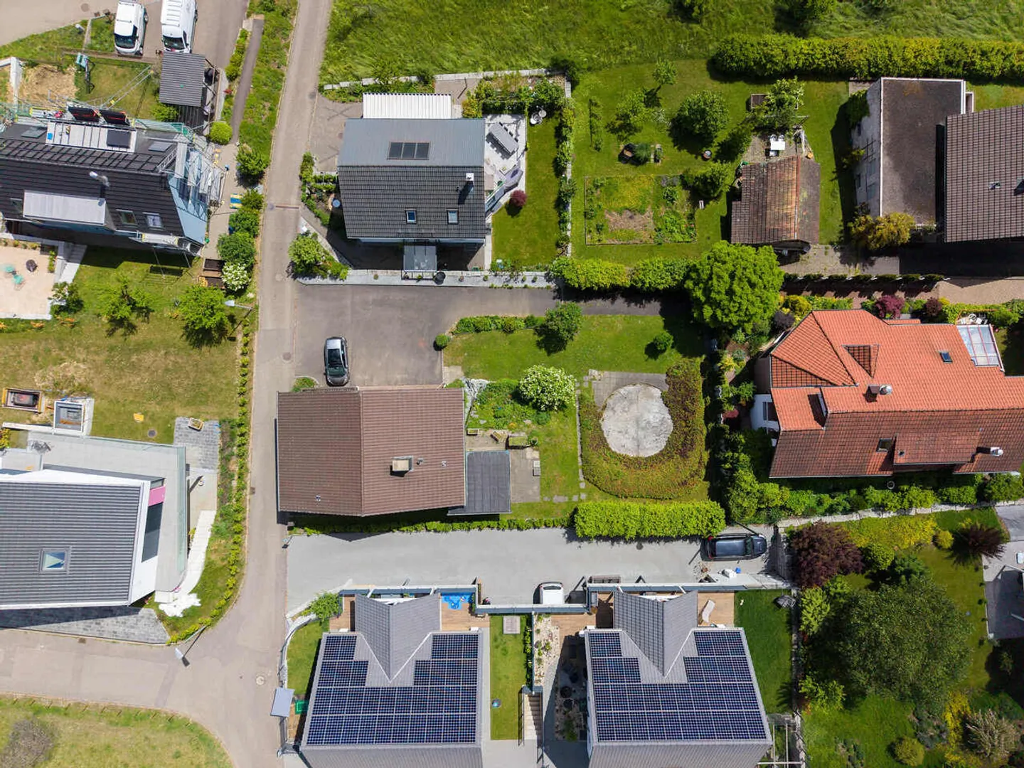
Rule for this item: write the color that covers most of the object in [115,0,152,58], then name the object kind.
white van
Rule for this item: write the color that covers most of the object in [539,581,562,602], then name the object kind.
white car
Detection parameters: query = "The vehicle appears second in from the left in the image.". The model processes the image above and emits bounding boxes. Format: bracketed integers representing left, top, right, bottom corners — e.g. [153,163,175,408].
[161,0,201,55]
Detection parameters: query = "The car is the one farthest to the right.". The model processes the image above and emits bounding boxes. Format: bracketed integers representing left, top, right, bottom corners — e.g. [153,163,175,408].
[701,533,767,564]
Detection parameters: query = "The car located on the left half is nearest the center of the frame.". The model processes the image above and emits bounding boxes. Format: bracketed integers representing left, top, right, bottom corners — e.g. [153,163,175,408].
[321,335,350,387]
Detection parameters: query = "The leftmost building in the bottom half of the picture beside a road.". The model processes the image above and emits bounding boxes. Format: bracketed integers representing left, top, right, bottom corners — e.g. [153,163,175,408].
[0,465,165,614]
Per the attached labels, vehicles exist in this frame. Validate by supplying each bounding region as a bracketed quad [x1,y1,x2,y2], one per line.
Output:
[115,0,152,58]
[161,0,201,55]
[539,581,562,602]
[321,335,350,387]
[701,533,767,564]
